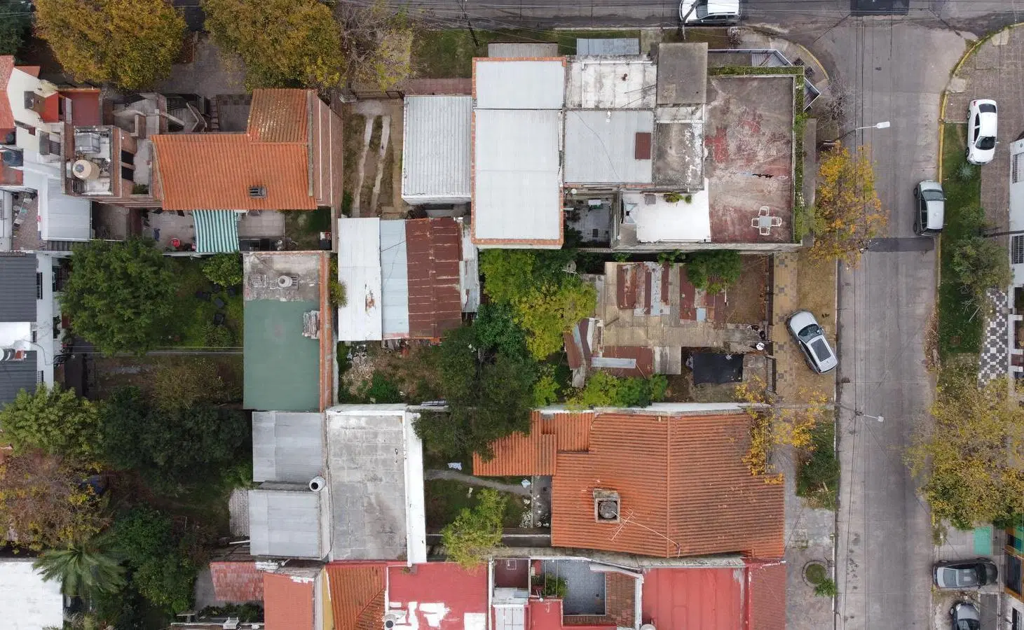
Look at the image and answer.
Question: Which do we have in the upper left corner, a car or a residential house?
residential house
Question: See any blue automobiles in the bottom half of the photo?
No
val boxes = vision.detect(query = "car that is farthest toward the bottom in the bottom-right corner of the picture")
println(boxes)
[945,594,983,630]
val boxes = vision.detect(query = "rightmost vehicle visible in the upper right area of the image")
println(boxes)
[963,99,1001,164]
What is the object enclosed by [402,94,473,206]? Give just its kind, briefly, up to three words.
building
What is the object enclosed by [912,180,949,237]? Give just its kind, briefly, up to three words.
car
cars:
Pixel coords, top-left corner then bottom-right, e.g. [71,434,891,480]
[963,99,1001,164]
[945,594,983,630]
[786,310,840,375]
[678,0,742,26]
[912,180,949,237]
[931,556,997,590]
